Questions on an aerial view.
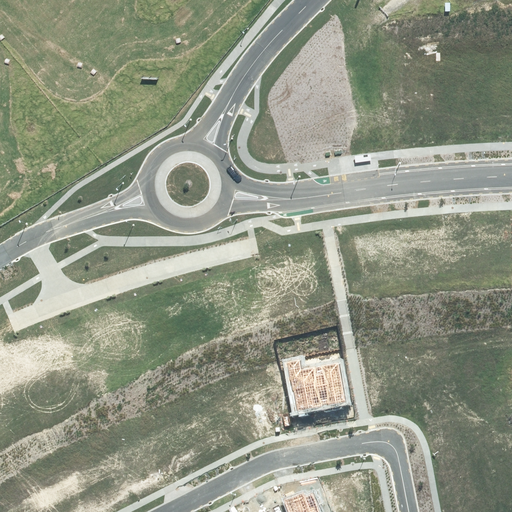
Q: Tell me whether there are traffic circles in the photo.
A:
Yes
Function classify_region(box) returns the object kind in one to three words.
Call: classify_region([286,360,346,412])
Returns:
house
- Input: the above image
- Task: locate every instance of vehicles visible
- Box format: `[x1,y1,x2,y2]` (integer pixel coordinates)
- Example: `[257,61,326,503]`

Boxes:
[226,166,240,181]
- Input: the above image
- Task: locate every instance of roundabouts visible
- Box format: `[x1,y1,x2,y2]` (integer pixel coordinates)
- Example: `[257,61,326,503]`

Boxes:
[140,136,236,232]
